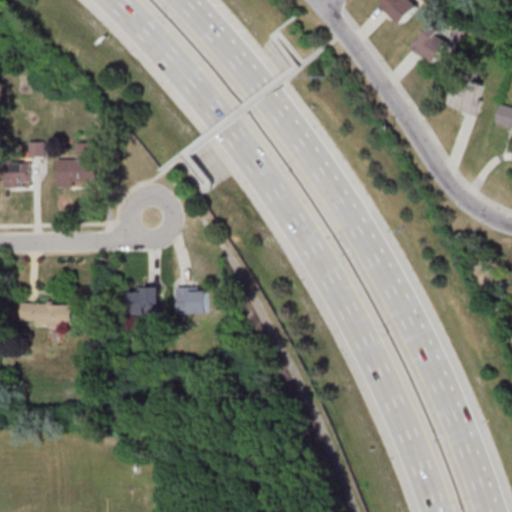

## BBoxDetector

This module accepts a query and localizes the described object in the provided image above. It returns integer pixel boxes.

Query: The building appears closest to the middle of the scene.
[174,286,212,314]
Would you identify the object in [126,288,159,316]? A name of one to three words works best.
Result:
house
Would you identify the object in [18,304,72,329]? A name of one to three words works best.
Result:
house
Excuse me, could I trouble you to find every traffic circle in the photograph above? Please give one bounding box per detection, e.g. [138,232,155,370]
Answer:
[120,185,184,248]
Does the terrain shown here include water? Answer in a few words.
No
